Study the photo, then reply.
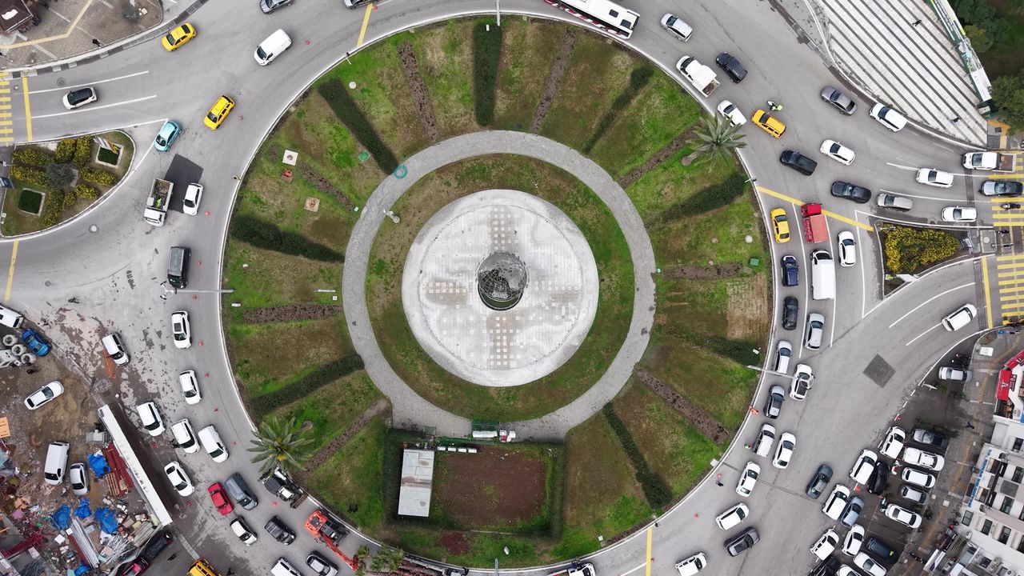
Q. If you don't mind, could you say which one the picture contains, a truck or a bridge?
truck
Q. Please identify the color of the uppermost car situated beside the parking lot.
white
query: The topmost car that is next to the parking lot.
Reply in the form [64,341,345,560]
[937,303,980,333]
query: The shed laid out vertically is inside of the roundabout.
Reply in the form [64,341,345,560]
[398,446,436,516]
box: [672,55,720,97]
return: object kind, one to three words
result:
truck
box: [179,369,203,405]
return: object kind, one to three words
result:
car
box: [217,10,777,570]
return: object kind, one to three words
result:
roundabout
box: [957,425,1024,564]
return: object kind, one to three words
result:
building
